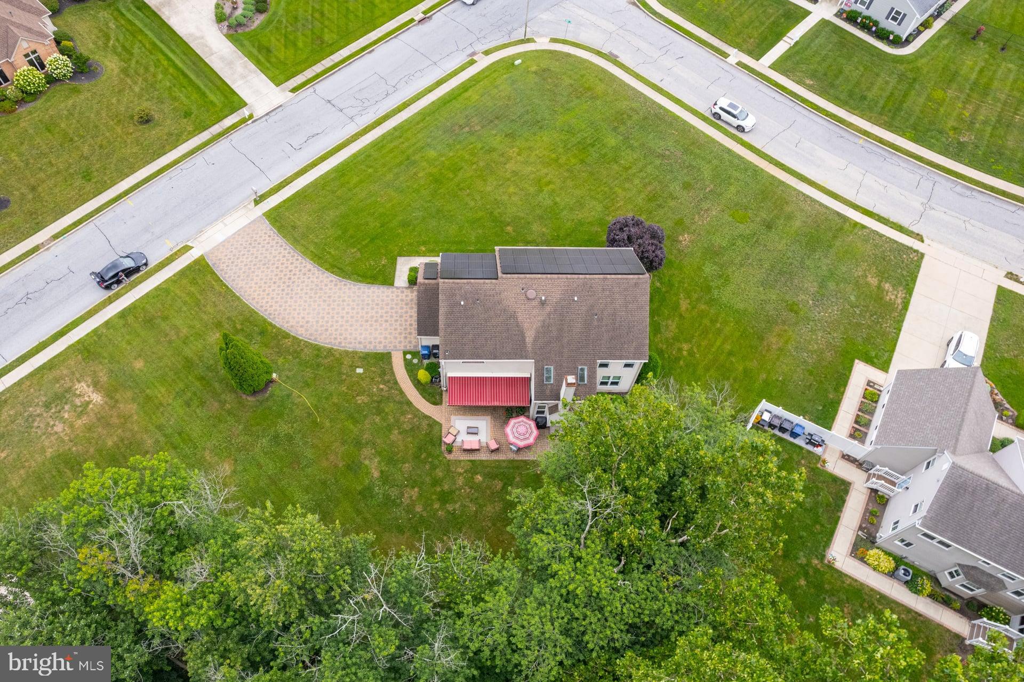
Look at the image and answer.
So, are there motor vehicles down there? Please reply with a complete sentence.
Yes, you can see a motor vehicle in this photo.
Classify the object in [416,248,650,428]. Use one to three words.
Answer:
house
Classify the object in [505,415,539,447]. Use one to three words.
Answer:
umbrella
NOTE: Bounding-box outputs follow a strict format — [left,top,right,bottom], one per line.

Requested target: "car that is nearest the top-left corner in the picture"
[85,250,150,292]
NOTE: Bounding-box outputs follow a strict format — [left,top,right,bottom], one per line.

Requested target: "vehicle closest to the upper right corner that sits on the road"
[711,95,759,133]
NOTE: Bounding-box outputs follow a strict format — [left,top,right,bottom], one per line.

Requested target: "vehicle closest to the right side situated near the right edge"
[939,328,978,369]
